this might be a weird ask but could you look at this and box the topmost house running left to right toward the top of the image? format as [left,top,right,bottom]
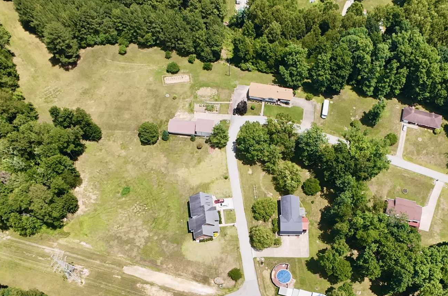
[249,83,293,103]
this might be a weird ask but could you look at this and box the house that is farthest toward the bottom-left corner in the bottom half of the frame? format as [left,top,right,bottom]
[189,194,220,239]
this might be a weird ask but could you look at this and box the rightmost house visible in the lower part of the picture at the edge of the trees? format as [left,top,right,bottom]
[384,198,423,228]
